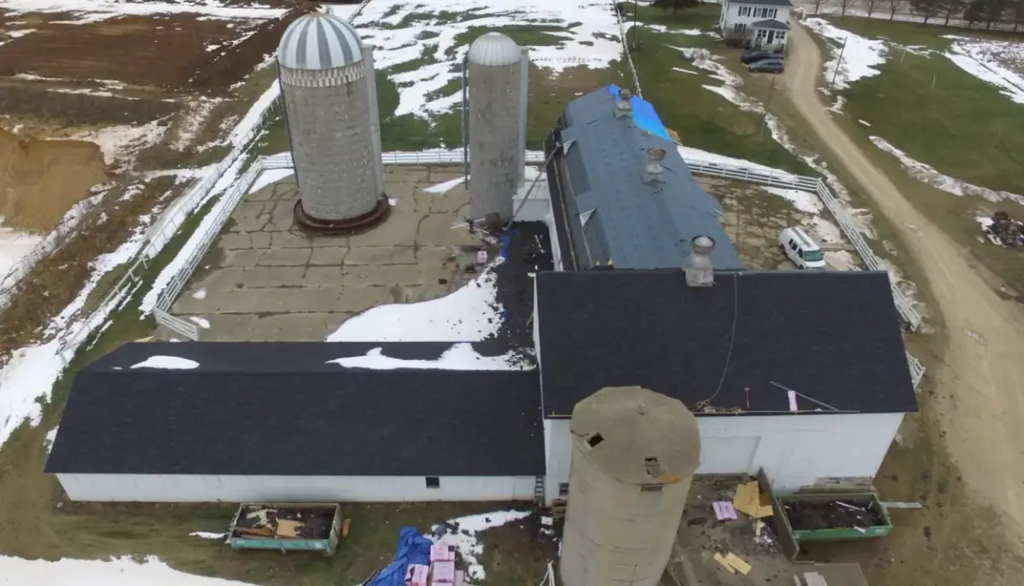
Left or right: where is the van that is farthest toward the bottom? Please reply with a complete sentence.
You can find the van that is farthest toward the bottom on the right side of the picture.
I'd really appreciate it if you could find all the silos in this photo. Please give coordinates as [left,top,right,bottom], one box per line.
[273,10,389,224]
[463,32,528,224]
[566,388,704,586]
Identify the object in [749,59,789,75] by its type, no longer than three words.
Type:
car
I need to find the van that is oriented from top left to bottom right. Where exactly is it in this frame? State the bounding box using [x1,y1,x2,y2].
[776,227,831,269]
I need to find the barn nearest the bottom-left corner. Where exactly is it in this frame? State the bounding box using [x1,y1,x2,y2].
[45,343,544,501]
